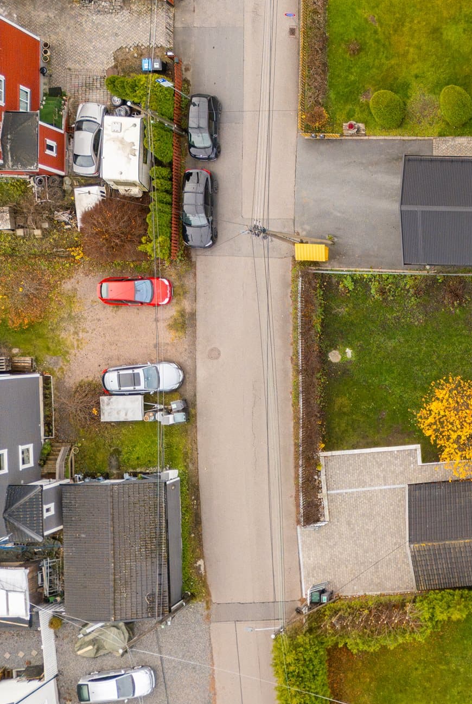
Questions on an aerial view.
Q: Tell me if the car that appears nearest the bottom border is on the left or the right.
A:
left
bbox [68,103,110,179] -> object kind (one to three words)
car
